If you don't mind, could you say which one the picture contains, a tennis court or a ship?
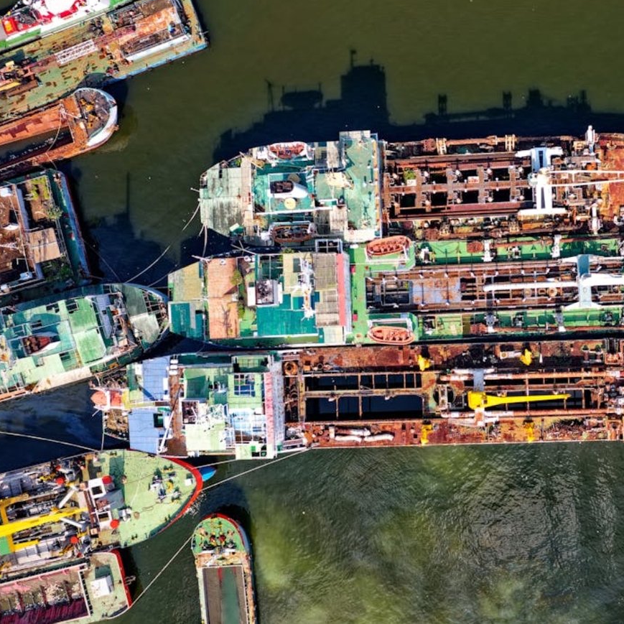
ship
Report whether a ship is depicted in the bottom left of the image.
Yes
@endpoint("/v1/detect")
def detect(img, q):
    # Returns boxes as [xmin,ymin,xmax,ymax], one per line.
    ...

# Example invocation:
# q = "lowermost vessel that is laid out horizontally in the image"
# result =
[0,547,140,624]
